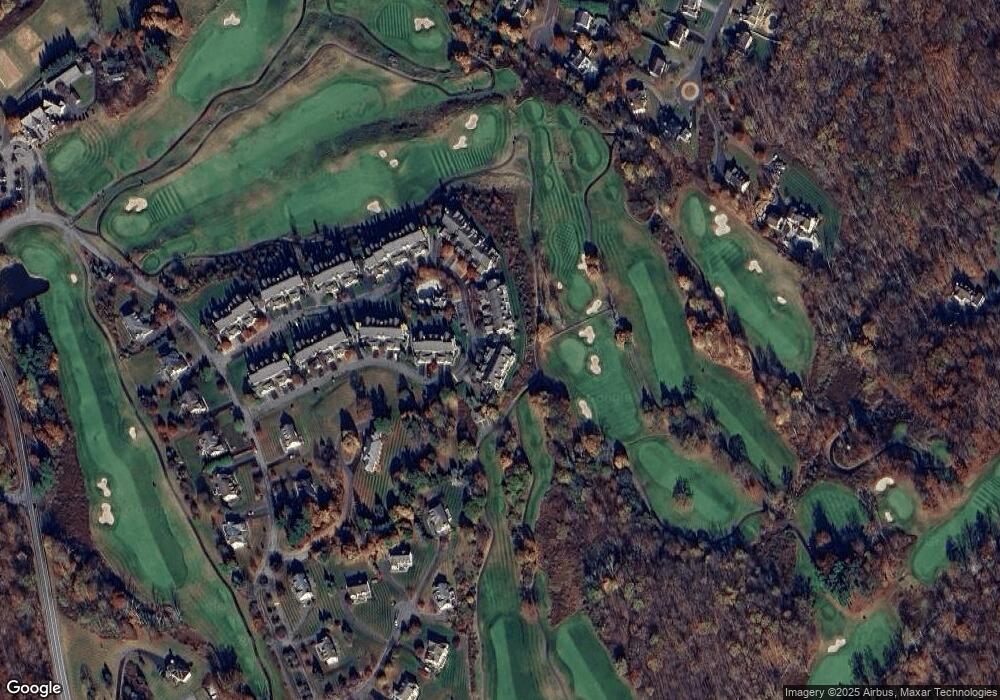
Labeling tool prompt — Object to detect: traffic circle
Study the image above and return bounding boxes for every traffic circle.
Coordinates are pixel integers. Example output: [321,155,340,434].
[674,76,705,105]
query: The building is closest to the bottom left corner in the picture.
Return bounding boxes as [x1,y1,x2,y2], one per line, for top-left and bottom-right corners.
[165,662,194,681]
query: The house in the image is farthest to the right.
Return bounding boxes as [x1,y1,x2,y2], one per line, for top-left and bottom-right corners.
[951,282,986,309]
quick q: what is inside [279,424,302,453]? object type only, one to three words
house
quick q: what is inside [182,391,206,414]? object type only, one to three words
house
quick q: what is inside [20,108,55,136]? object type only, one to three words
building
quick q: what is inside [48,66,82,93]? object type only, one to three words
barn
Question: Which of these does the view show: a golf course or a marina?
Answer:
golf course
